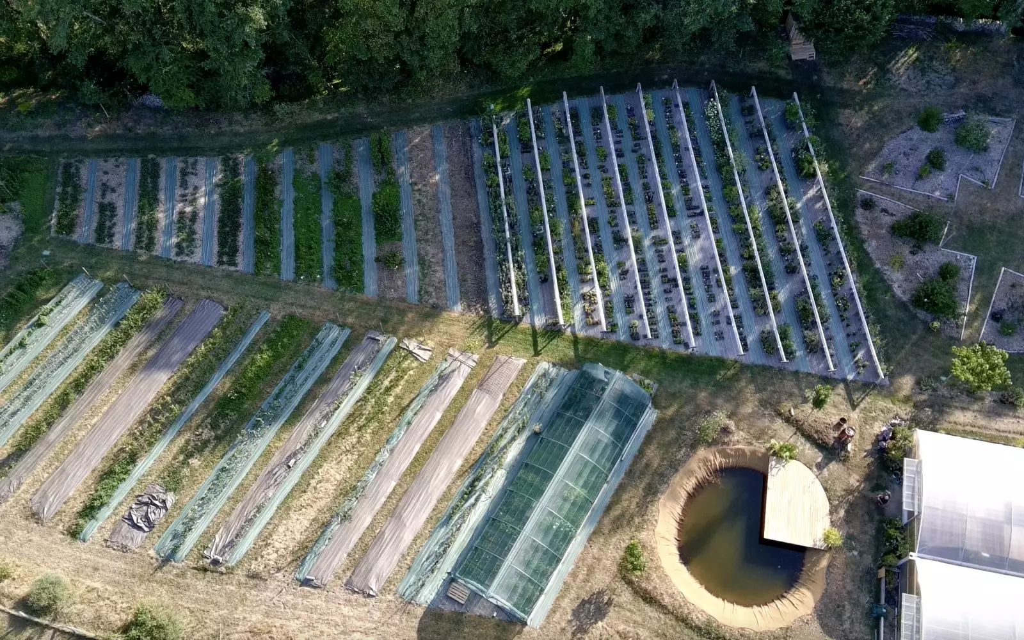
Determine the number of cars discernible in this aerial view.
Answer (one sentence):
There are no cars in the image.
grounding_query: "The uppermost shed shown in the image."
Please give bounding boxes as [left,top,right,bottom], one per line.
[784,17,819,62]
